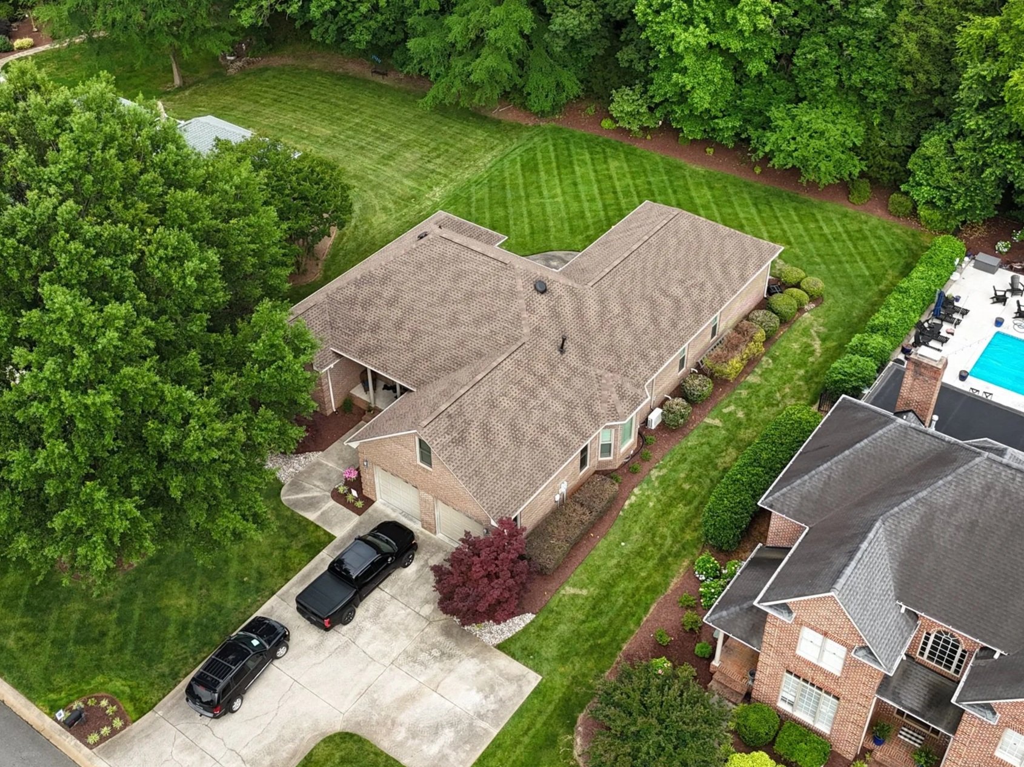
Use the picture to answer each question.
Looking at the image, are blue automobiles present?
No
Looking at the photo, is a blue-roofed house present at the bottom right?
No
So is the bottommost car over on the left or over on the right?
left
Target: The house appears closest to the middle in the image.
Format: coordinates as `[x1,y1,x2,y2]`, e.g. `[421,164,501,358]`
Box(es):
[262,200,786,556]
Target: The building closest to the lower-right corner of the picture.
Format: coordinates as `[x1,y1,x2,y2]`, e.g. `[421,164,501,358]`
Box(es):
[698,349,1024,767]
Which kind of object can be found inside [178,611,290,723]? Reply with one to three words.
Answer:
car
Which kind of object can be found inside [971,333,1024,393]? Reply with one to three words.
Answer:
swimming pool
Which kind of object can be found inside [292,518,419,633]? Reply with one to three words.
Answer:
truck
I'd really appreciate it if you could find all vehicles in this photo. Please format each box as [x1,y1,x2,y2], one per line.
[178,611,290,723]
[292,518,419,633]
